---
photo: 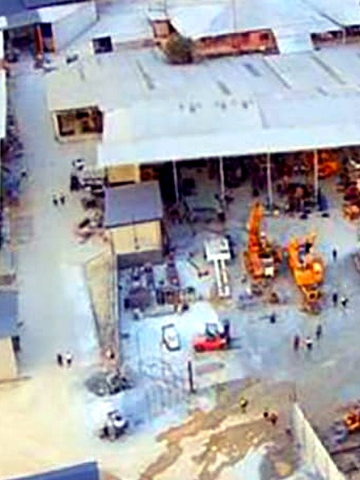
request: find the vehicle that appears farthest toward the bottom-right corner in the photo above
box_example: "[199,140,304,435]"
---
[190,316,242,352]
